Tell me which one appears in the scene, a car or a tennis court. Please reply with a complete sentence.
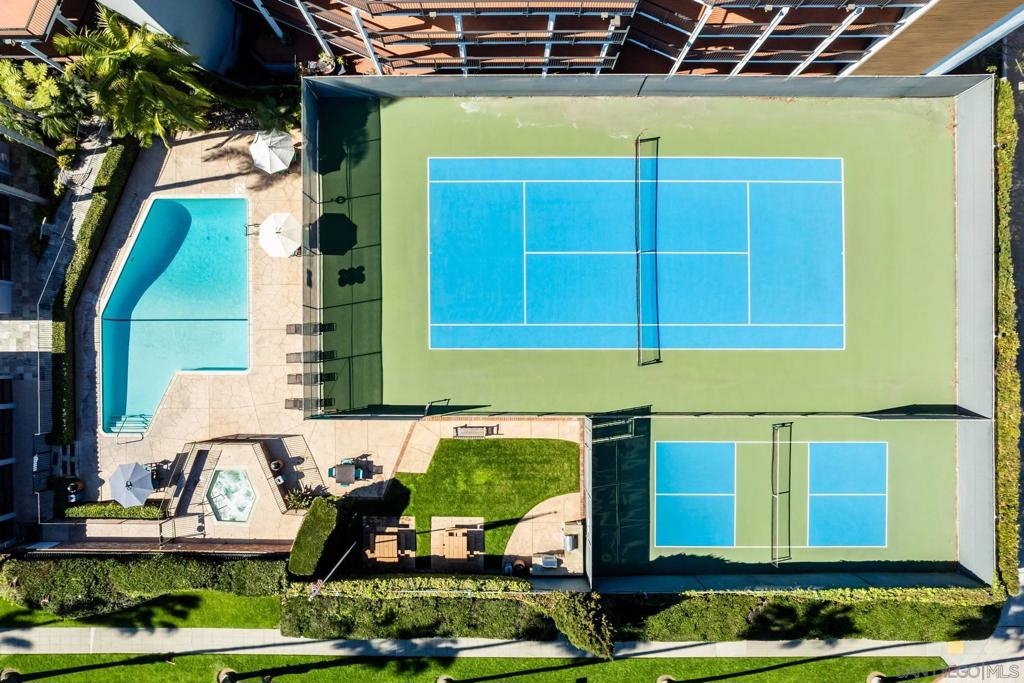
Of the two, only a tennis court appears.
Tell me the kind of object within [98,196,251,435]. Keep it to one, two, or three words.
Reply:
swimming pool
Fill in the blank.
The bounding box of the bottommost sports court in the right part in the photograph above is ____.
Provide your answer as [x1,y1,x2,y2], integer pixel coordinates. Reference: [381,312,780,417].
[586,415,958,576]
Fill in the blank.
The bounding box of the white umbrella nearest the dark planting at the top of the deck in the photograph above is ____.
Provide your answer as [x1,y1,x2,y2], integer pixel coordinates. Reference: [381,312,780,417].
[251,129,295,173]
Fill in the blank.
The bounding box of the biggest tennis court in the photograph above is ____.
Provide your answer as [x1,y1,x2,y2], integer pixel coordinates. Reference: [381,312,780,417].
[319,96,957,414]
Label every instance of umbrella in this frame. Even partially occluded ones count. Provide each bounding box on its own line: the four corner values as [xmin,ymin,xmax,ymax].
[110,461,157,507]
[260,214,302,256]
[251,129,295,173]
